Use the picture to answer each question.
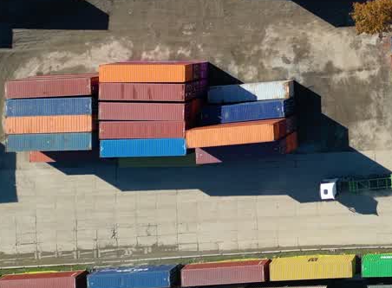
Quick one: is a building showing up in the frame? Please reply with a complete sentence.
No, this view has no building in it.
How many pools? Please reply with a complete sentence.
The photo contains no pools.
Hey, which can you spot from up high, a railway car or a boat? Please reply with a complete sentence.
Looking from above, you can make out a railway car.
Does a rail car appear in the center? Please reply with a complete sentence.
No, no rail car is visible in the center.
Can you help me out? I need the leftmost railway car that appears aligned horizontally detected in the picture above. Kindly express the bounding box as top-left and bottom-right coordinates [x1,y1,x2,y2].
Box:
[6,264,180,287]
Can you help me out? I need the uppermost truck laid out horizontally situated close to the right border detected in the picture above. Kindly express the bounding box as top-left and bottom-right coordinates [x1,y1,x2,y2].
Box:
[313,173,392,205]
